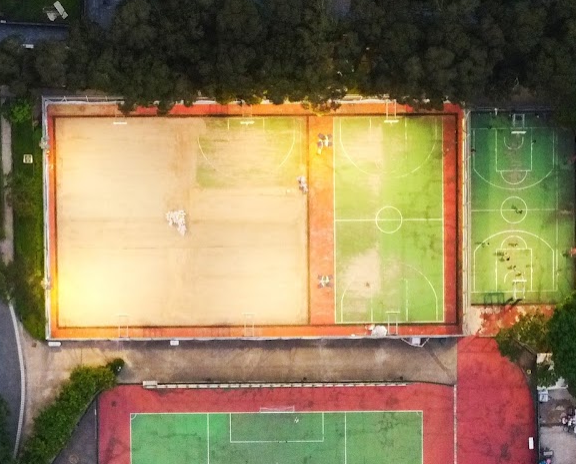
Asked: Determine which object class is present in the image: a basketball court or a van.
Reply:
basketball court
